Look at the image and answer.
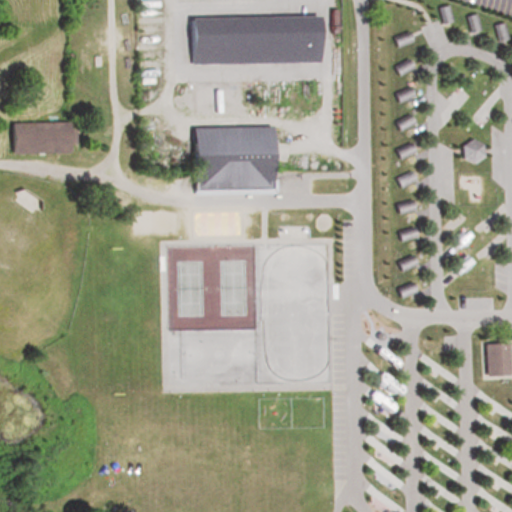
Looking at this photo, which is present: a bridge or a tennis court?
tennis court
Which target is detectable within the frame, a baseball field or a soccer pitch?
soccer pitch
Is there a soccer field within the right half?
No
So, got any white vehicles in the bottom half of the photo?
Yes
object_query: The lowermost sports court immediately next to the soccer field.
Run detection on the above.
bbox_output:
[170,331,256,386]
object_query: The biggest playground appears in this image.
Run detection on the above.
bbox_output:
[460,176,482,203]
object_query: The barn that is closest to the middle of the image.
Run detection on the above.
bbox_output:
[196,126,277,190]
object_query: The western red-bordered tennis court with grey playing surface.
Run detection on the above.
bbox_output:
[169,248,212,329]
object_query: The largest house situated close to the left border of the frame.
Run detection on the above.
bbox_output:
[13,123,78,158]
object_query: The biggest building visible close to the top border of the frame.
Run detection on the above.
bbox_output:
[194,17,326,64]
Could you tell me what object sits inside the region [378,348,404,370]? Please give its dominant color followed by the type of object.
white vehicle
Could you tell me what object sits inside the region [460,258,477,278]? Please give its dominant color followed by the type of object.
white vehicle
